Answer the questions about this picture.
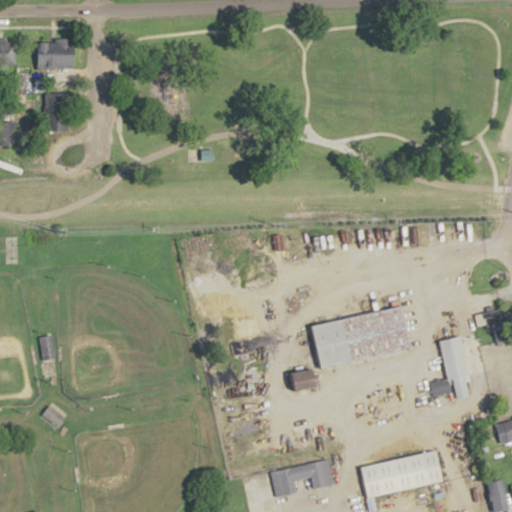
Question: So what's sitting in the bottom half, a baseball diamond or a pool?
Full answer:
Looking in the bottom half, you will find a baseball diamond.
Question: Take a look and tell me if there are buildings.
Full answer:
Yes, looking at the shot, I can spot a building.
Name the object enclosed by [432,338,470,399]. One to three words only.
shed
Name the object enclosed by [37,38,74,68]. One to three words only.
house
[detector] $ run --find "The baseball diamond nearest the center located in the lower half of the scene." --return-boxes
[58,267,196,405]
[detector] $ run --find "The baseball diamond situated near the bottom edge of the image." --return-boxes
[76,417,197,512]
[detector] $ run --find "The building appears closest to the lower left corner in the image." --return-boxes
[40,404,66,428]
